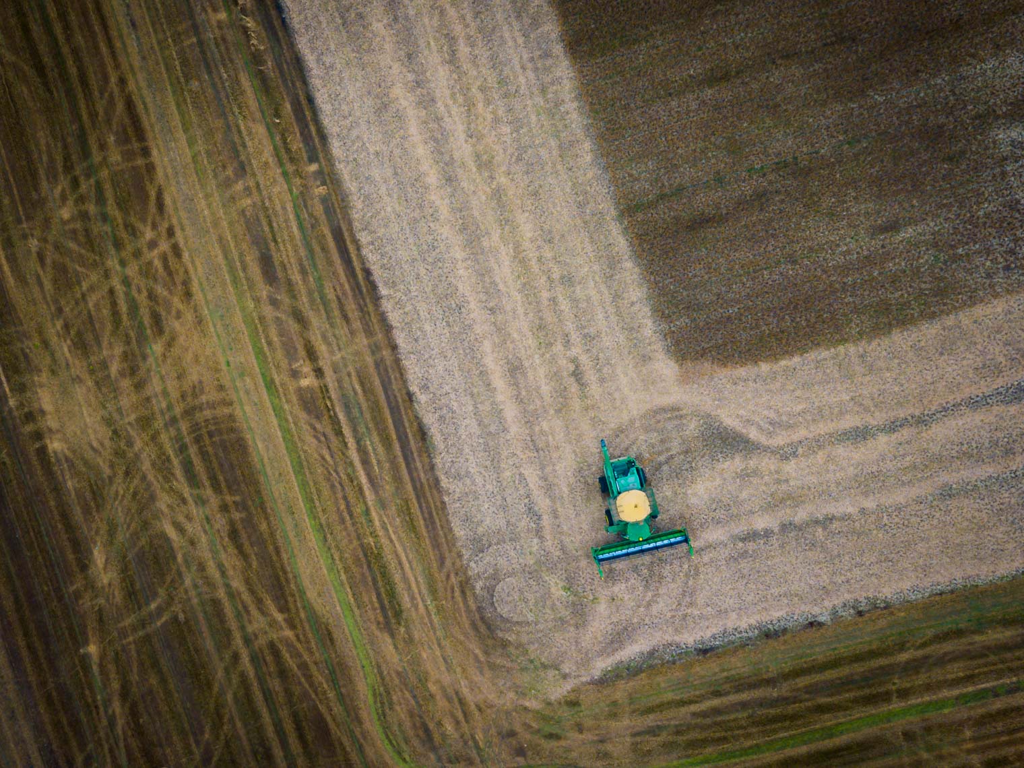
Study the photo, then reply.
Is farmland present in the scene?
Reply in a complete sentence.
Yes, some farmland is visible.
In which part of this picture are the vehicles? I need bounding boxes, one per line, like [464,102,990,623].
[590,437,693,578]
